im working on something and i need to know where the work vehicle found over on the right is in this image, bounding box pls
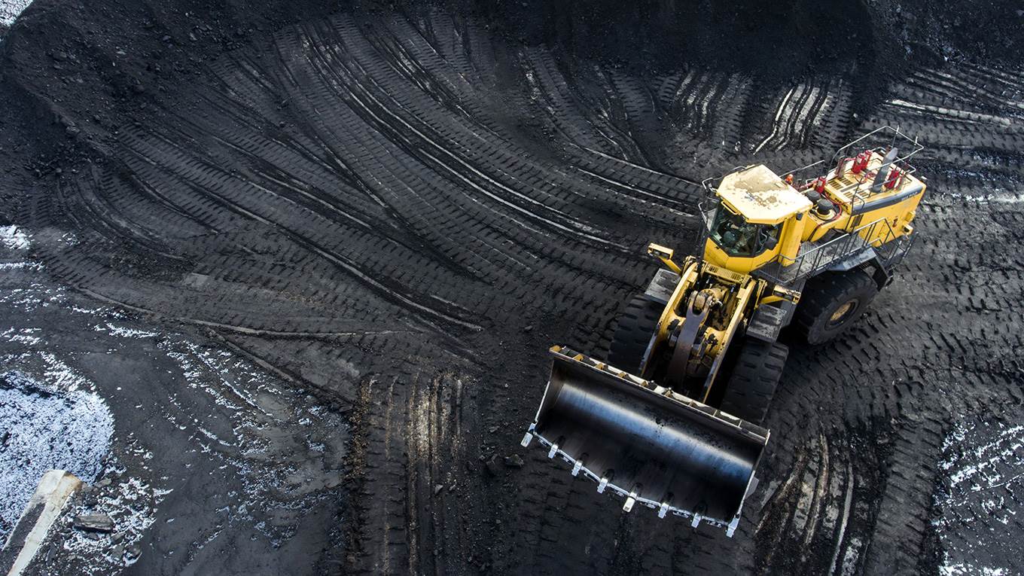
[522,125,927,538]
